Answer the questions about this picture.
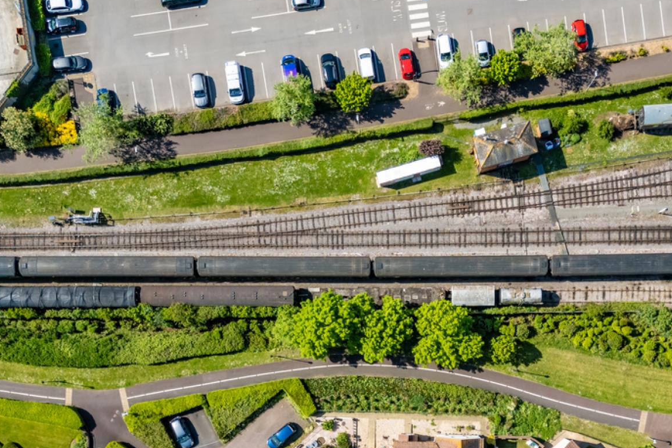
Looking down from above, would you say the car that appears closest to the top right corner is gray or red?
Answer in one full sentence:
In this view, the car that appears closest to the top right corner is red.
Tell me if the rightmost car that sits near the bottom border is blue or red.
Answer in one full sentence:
The rightmost car that sits near the bottom border looks blue in the image.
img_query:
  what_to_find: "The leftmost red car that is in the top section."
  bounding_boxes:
[396,46,416,80]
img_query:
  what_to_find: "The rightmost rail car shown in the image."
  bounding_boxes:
[497,286,542,305]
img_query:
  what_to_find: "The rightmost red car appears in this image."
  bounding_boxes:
[570,17,591,52]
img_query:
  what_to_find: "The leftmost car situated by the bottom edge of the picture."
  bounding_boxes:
[168,415,194,448]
